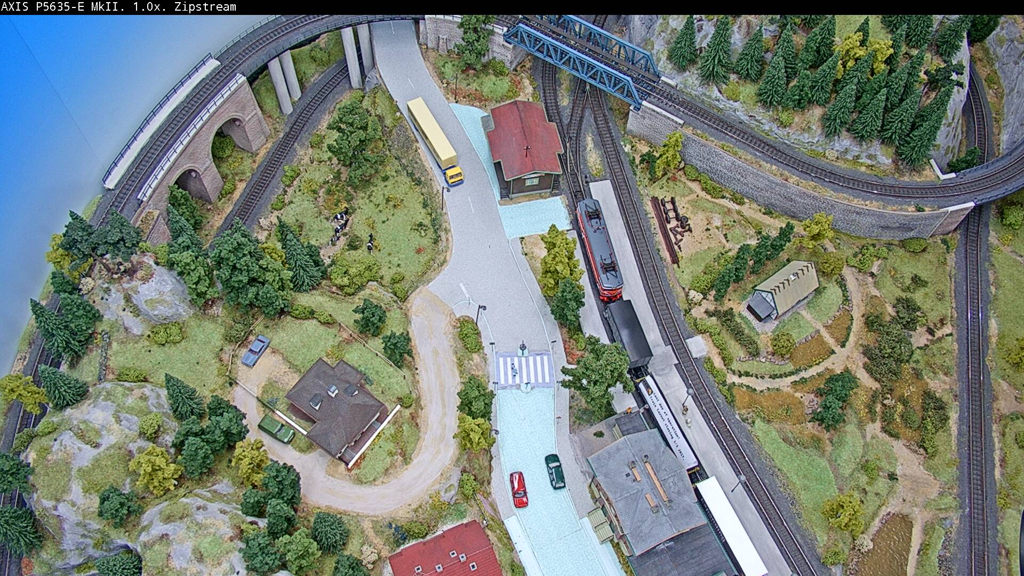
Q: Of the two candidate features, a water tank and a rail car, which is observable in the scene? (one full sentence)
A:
Looking from above, you can make out a rail car.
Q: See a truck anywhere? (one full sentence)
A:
Yes, the photo shows a truck.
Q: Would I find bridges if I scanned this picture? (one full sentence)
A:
Yes, there's a bridge here.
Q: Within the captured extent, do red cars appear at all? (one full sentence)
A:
Yes, you can see a red car in this photo.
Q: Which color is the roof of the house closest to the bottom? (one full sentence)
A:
The roof over the house closest to the bottom appears red.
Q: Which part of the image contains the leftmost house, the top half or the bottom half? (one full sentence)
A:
You can find the leftmost house in the bottom half.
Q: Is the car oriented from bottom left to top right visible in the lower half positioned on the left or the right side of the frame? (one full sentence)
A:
The car oriented from bottom left to top right visible in the lower half is on the left side of the image.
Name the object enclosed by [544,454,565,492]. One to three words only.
car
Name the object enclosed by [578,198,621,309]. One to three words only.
rail car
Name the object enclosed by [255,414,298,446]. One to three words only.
car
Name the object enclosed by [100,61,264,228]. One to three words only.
bridge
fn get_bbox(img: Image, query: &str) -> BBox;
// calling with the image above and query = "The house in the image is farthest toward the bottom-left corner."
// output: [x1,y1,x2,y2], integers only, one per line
[284,359,405,472]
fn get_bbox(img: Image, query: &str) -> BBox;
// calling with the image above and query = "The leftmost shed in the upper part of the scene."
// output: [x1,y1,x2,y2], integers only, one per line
[480,96,565,199]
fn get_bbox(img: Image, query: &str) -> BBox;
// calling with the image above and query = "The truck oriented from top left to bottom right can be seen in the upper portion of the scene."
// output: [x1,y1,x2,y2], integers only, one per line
[407,97,465,187]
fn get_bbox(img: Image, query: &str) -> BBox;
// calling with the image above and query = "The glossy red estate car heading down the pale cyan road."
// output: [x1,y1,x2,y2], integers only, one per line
[510,471,529,510]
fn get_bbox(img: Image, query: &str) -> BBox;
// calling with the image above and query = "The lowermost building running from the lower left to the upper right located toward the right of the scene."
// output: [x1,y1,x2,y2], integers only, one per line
[745,260,822,322]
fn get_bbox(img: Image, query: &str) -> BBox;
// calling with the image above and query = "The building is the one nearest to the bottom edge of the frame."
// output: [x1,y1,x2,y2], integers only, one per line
[389,519,505,576]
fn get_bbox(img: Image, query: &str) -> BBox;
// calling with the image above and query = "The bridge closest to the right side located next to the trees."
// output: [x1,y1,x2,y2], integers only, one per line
[940,141,1024,210]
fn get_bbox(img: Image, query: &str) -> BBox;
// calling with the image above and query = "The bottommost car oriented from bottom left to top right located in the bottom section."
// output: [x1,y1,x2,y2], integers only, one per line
[238,333,273,367]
